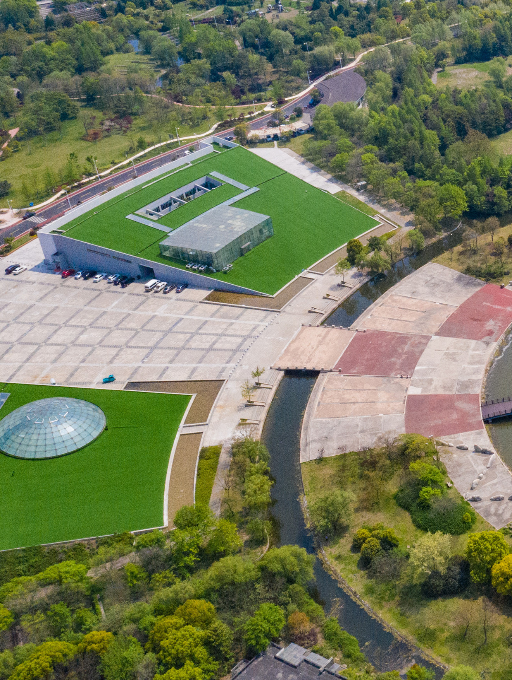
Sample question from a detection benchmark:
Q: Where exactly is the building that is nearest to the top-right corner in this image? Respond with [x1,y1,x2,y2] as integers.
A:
[314,69,368,109]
